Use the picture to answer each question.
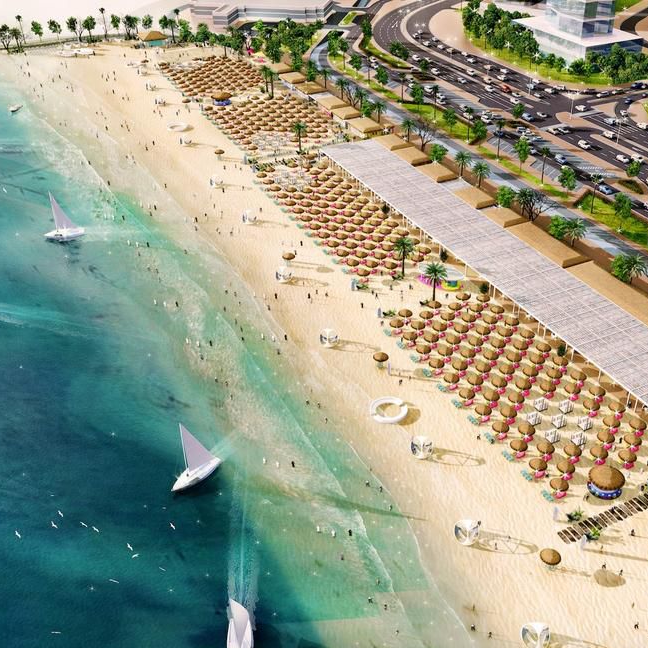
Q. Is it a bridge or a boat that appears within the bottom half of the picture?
boat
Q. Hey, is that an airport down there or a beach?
beach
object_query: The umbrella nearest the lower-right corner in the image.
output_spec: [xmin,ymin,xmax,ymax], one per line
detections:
[540,545,567,568]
